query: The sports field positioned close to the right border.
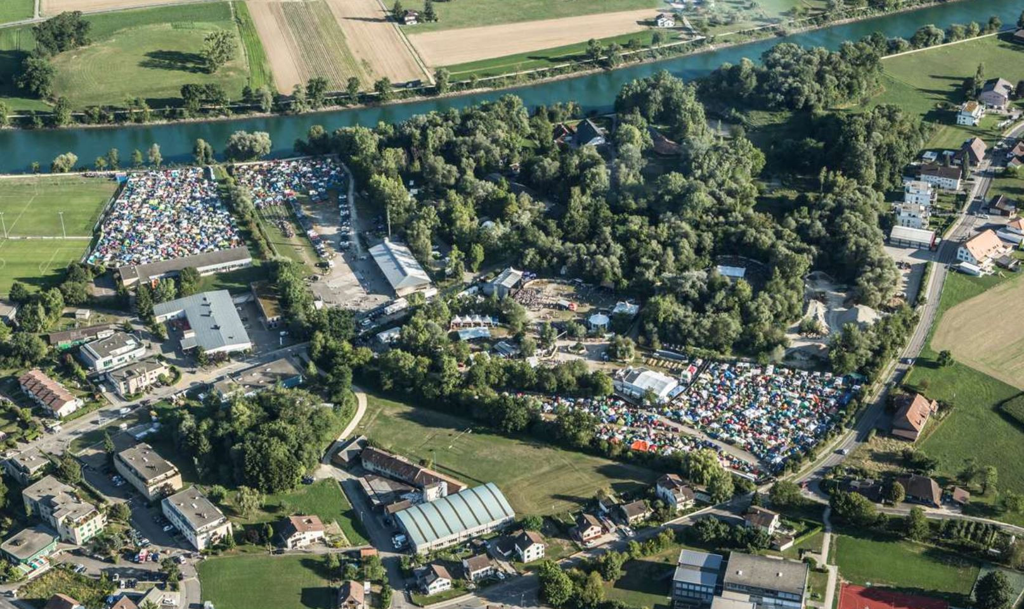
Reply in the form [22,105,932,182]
[836,533,981,598]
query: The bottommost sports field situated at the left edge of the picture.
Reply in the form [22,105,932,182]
[0,238,92,299]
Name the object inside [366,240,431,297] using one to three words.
building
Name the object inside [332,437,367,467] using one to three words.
barn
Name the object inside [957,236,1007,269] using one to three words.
house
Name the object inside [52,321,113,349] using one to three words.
shed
